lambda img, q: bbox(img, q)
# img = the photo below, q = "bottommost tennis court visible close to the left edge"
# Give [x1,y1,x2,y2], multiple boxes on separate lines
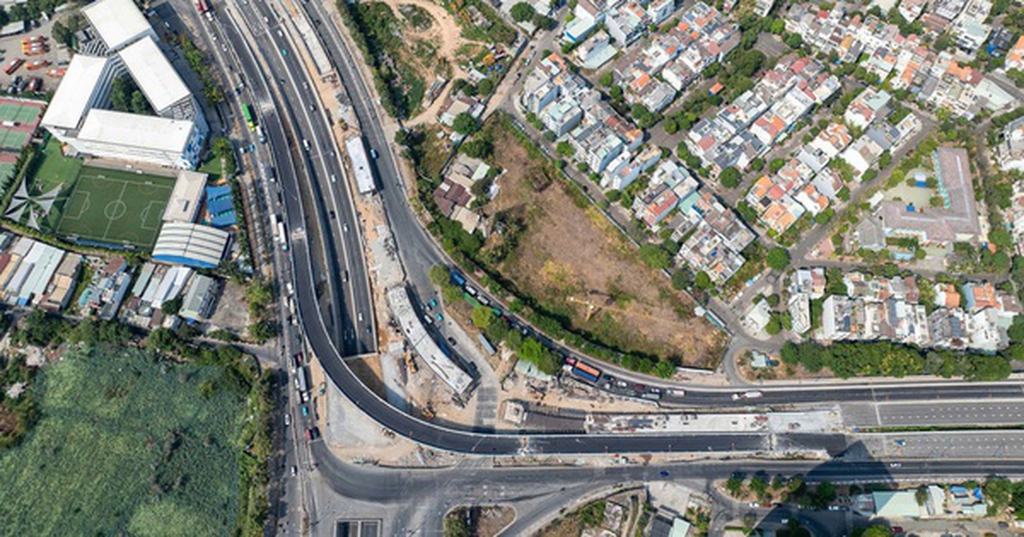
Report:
[0,152,26,182]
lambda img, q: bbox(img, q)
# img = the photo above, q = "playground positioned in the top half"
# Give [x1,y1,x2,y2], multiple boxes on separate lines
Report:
[885,167,938,213]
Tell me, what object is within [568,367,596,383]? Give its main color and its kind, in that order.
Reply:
blue vehicle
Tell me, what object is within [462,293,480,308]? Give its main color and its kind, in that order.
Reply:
green vehicle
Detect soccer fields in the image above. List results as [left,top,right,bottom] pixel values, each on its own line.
[49,164,178,252]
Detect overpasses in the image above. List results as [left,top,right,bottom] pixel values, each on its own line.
[211,0,846,457]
